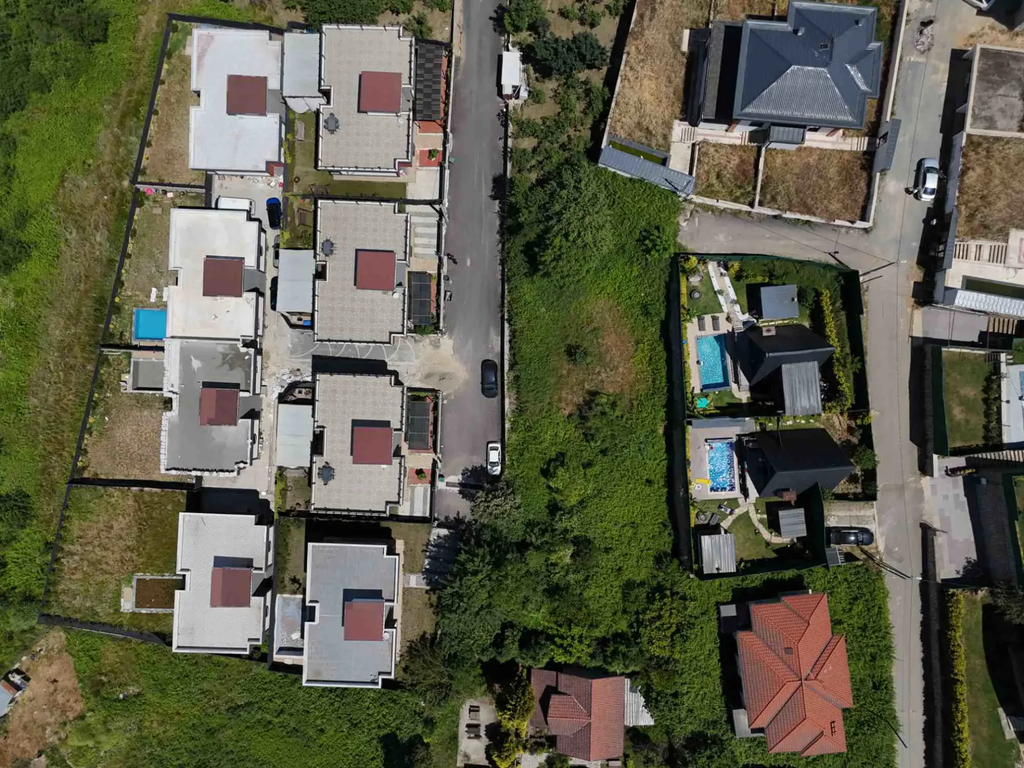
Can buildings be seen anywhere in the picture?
Yes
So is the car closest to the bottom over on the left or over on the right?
right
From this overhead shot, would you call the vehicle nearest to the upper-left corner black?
No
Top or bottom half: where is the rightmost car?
top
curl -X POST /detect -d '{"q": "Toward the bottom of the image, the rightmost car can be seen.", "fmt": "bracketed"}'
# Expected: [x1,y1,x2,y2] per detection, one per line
[829,526,874,547]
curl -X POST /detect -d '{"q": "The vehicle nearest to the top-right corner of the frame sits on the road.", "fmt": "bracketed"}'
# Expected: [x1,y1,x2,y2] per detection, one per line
[910,160,944,202]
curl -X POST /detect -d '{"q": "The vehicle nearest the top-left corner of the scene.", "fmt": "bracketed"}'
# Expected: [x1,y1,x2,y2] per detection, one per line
[213,195,256,215]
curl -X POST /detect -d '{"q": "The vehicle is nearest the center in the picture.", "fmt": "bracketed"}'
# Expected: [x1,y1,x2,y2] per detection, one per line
[480,360,499,397]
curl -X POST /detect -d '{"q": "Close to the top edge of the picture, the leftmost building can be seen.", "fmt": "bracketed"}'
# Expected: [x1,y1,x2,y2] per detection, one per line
[189,29,292,180]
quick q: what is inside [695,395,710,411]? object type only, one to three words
umbrella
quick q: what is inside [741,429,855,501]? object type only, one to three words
house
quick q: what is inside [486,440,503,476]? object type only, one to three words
car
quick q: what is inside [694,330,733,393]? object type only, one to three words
swimming pool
